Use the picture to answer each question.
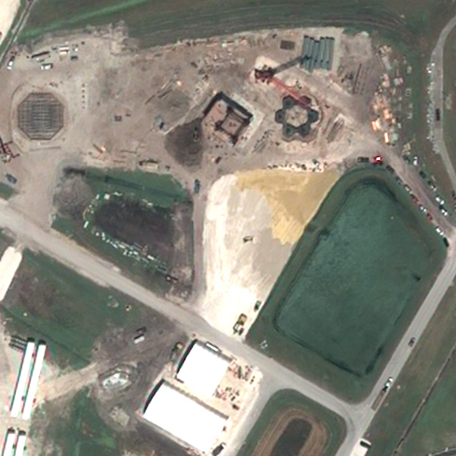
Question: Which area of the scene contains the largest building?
bottom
